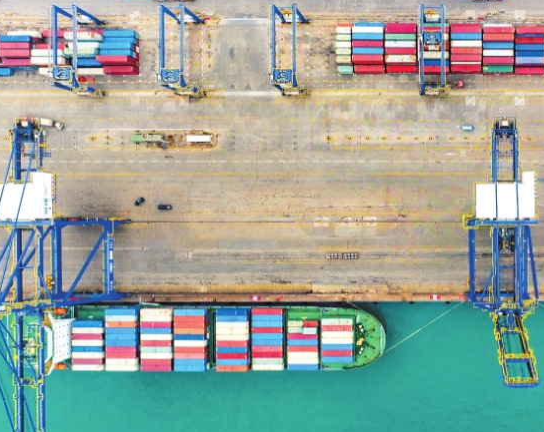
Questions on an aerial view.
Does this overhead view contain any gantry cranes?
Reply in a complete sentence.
Yes, this view includes a gantry crane.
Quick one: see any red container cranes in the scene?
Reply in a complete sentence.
No, I can't see a single red container crane in this photo.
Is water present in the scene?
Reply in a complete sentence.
Yes, there is water in the image.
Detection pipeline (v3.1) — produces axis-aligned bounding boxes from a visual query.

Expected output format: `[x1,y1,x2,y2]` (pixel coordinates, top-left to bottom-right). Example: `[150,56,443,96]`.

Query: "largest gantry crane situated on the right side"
[461,121,538,390]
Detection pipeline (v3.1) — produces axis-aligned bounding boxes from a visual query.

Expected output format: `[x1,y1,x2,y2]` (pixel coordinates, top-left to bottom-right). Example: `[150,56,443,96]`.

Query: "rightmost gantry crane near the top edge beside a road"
[414,4,454,96]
